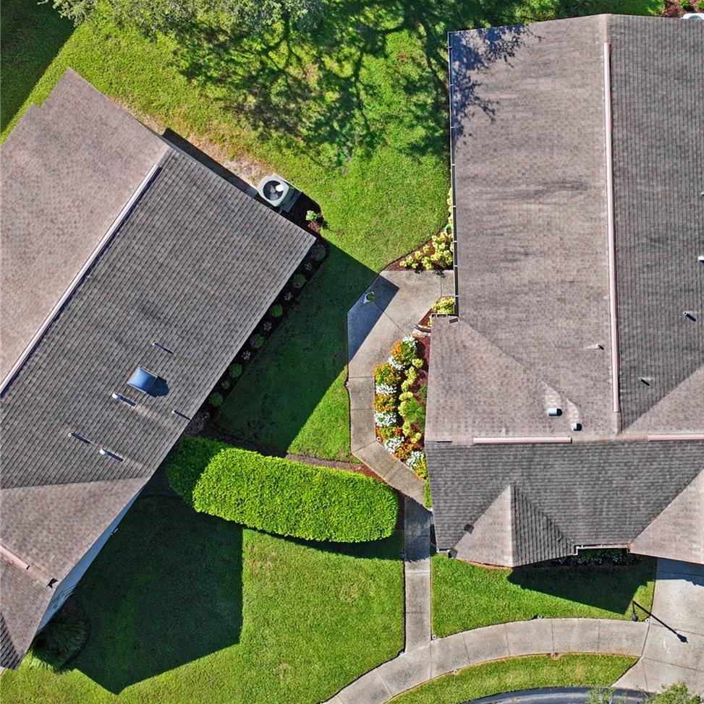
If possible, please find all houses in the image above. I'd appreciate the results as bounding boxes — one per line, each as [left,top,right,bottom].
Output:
[0,67,316,675]
[427,12,704,567]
